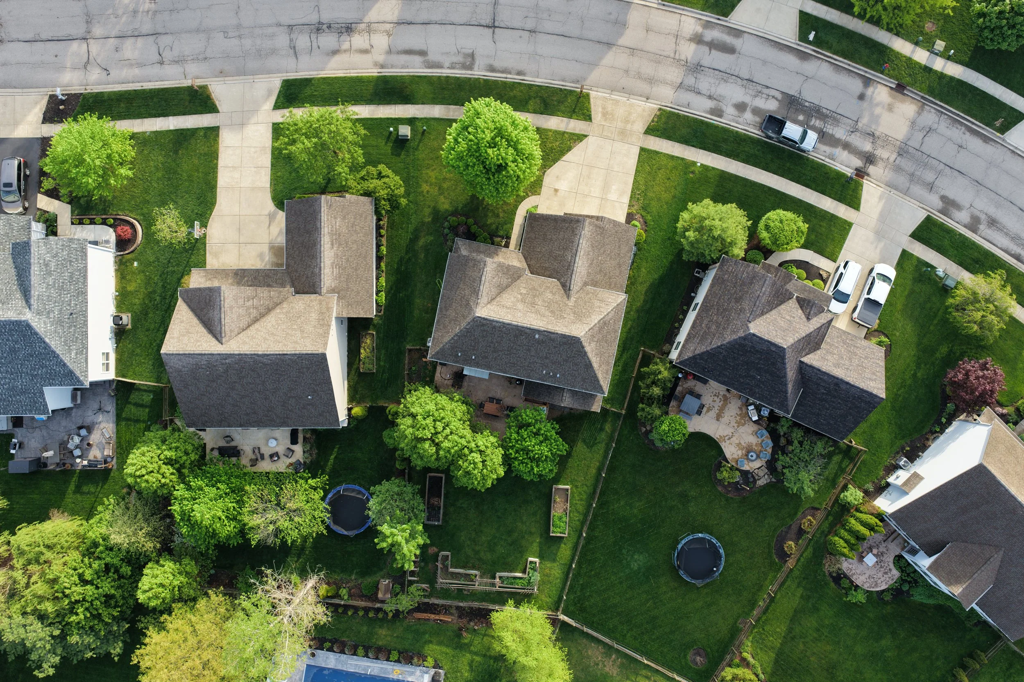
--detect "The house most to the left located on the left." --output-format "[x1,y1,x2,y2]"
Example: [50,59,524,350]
[0,214,116,417]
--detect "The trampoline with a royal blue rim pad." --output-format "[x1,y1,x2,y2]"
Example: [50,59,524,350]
[324,489,370,536]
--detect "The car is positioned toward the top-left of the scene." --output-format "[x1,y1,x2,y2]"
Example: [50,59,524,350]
[0,154,30,213]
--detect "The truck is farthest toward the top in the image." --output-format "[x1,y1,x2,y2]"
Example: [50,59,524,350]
[758,110,822,151]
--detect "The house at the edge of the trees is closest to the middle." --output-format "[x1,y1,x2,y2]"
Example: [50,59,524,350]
[427,212,638,413]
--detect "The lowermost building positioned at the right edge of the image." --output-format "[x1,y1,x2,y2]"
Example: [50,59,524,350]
[869,410,1024,642]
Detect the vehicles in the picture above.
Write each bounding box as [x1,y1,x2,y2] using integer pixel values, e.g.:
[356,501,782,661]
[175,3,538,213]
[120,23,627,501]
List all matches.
[853,262,895,331]
[828,256,866,316]
[758,110,822,151]
[0,154,30,213]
